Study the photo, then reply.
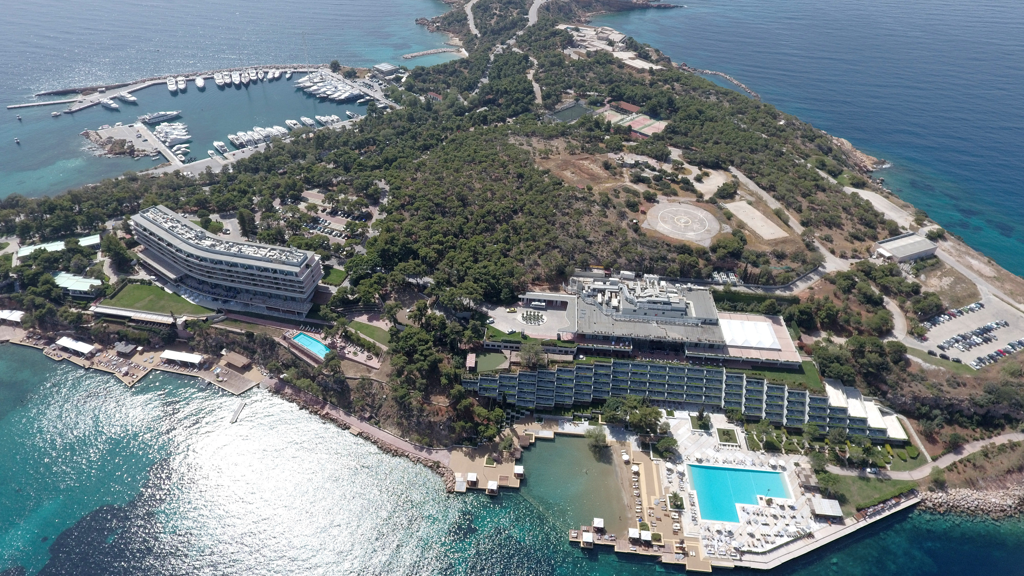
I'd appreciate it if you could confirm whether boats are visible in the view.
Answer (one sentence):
Yes, there is a boat in the image.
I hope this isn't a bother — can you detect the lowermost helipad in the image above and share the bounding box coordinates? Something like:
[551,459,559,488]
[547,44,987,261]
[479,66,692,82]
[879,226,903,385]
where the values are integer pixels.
[645,202,722,242]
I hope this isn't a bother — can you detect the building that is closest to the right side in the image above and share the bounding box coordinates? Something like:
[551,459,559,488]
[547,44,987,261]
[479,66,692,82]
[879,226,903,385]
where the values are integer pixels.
[874,230,939,267]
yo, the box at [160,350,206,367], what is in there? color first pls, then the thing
white tent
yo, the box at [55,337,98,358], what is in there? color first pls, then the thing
white tent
